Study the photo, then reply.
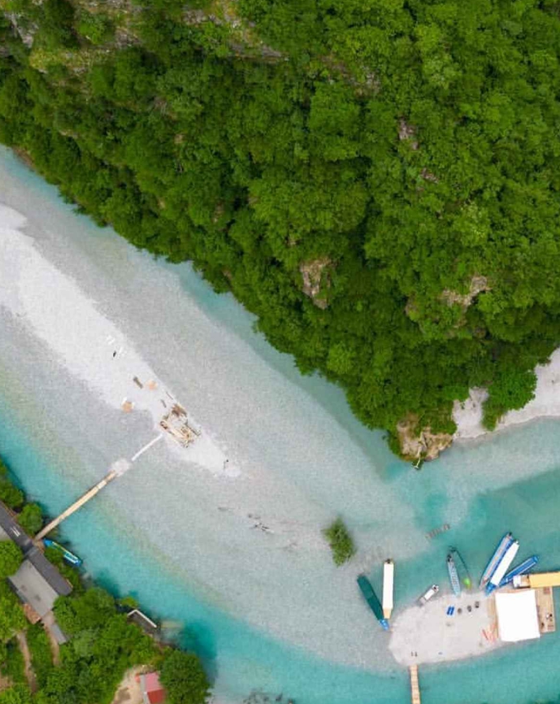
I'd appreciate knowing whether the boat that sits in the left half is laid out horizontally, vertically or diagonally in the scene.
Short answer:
diagonally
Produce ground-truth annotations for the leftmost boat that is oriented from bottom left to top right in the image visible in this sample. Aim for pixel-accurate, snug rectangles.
[419,584,438,604]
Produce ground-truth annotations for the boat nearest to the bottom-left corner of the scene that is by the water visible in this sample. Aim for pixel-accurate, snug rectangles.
[55,544,82,566]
